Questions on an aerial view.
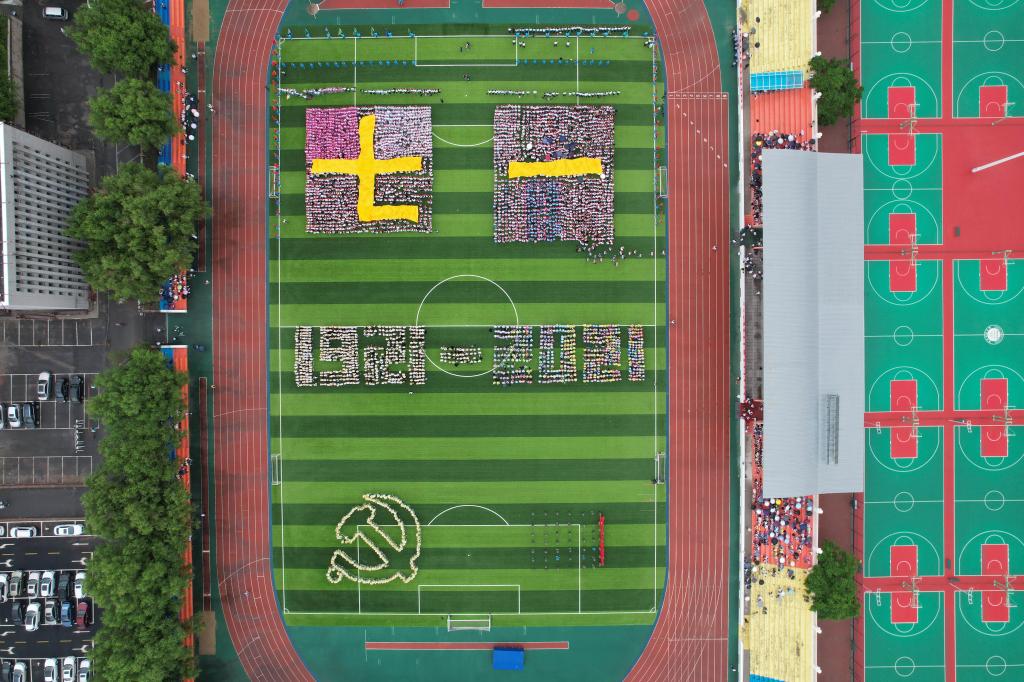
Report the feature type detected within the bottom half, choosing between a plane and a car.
car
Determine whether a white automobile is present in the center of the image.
No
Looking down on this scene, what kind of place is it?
sports ground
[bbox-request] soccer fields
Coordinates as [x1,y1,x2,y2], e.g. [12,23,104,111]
[270,24,666,626]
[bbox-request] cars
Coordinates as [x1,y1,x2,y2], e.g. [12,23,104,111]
[59,600,74,627]
[54,524,86,536]
[72,571,87,599]
[26,571,41,599]
[43,657,59,682]
[10,525,38,538]
[12,660,28,682]
[37,373,52,400]
[68,376,83,403]
[77,659,92,682]
[10,601,25,626]
[75,601,90,630]
[8,570,24,598]
[62,655,77,682]
[25,601,42,632]
[22,402,38,429]
[55,378,69,402]
[0,403,7,430]
[41,570,56,599]
[44,599,59,624]
[0,573,9,604]
[57,574,72,601]
[0,659,14,682]
[7,403,22,428]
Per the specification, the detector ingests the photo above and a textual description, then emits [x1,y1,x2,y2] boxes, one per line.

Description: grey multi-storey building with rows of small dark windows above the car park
[0,121,91,309]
